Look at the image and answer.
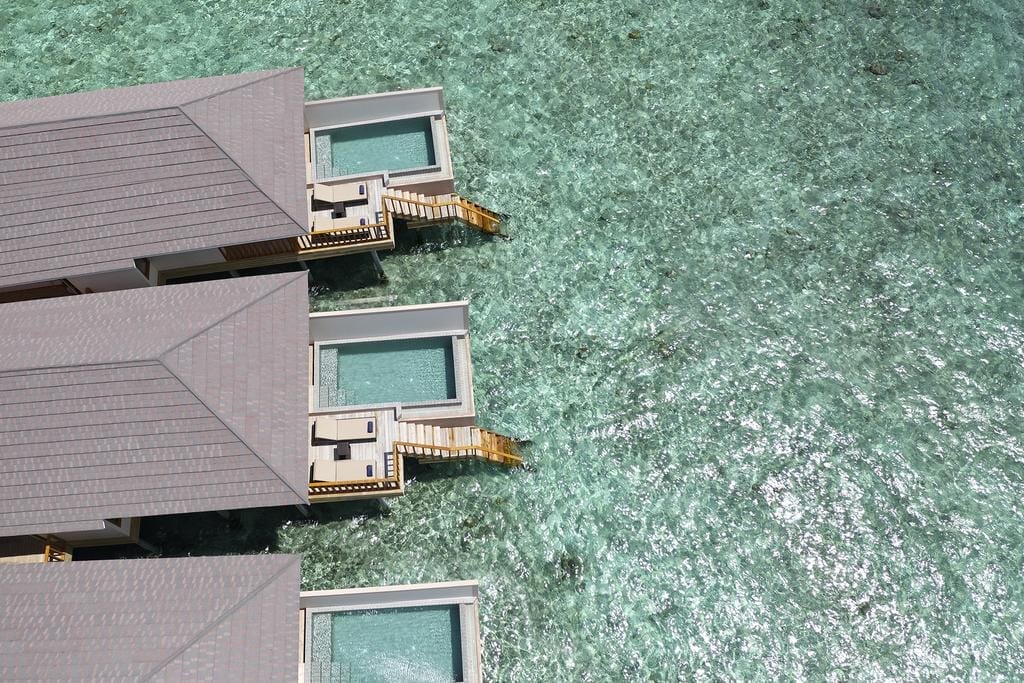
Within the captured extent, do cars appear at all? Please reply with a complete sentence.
No, no car is visible in the view.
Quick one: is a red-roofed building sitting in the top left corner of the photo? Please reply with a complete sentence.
No, there is no red-roofed building in the top left corner of the photo.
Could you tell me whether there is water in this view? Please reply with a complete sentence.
Yes, some water is visible.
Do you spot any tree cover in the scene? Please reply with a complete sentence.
No, the scene doesn't show any tree cover.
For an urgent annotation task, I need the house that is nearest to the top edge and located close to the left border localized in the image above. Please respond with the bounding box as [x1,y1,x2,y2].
[0,64,311,299]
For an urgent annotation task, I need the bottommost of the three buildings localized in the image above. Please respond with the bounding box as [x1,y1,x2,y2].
[0,551,303,683]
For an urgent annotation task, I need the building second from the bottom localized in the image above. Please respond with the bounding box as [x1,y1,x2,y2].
[0,270,310,553]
